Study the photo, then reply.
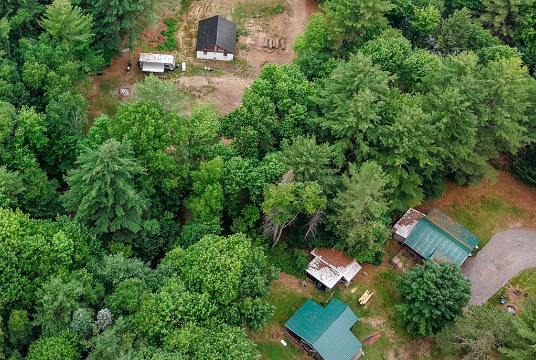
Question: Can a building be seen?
Yes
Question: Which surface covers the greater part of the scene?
trees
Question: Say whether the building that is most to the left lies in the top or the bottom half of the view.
top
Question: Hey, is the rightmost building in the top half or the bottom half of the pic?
bottom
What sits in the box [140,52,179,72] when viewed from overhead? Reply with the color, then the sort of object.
white trailer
